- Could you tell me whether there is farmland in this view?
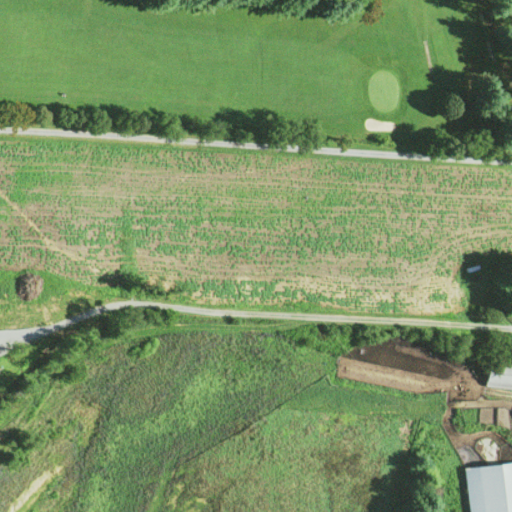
Yes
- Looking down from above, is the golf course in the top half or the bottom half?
top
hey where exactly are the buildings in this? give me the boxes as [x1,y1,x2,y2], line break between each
[480,408,494,424]
[466,465,512,512]
[486,370,512,392]
[498,408,510,428]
